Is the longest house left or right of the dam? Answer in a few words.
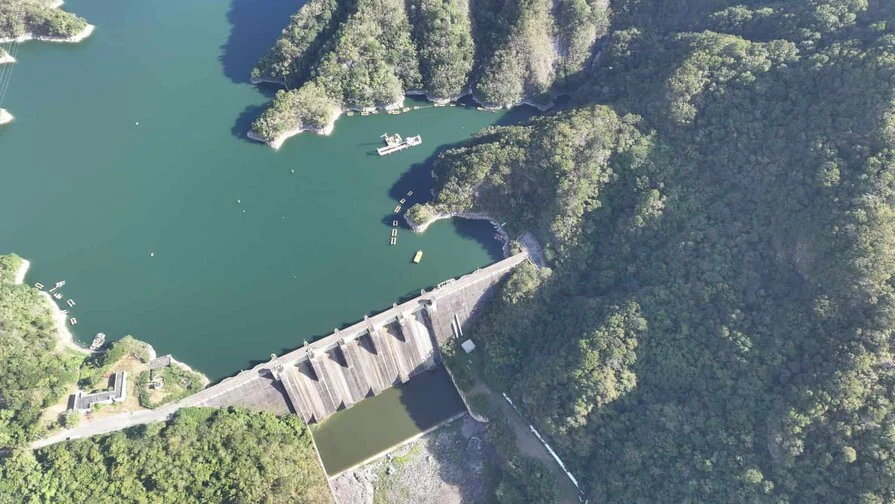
to the left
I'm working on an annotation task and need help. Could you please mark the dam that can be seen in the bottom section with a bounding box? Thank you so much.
[195,251,528,501]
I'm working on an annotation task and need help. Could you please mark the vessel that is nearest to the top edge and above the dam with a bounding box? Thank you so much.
[378,136,421,156]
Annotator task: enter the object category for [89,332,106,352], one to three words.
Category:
vessel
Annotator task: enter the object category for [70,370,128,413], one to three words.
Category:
house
